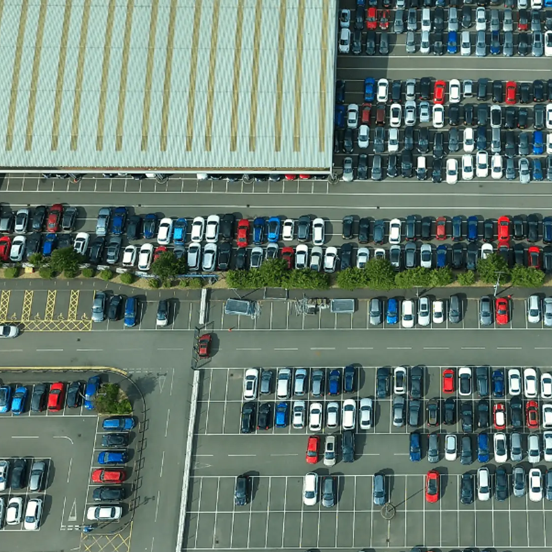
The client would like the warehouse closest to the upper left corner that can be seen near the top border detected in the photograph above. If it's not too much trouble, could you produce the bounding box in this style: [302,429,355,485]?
[0,0,341,181]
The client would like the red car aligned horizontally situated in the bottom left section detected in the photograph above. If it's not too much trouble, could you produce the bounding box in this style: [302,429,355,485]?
[91,469,128,484]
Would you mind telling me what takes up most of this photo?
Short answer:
paved ground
